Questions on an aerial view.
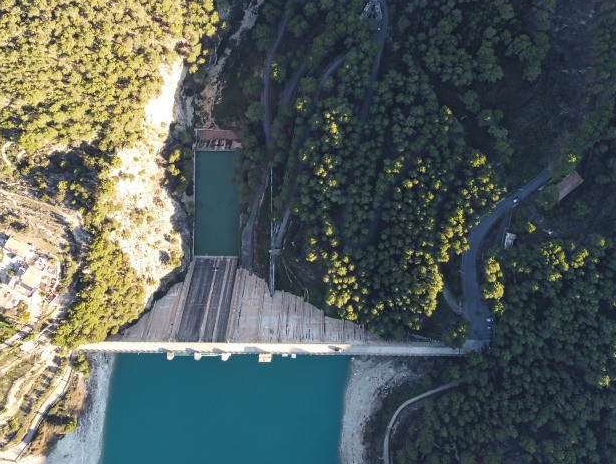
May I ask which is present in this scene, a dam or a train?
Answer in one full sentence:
Of the two, only a dam appears.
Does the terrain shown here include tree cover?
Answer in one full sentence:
Yes, some tree cover is visible.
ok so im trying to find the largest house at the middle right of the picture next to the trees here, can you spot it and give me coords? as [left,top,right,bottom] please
[548,170,585,201]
